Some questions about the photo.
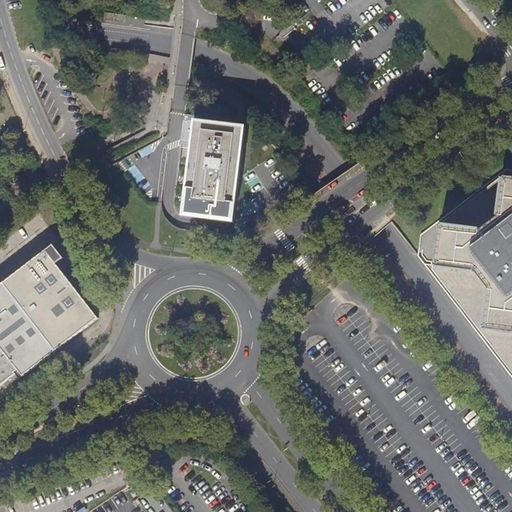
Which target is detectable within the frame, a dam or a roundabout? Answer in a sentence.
The image shows a roundabout.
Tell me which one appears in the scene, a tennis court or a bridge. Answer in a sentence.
This aerial view contains a bridge.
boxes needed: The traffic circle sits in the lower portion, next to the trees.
[120,260,265,405]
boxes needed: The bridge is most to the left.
[166,0,199,113]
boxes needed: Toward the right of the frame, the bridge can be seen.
[307,161,404,248]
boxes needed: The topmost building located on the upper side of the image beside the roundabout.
[180,118,244,222]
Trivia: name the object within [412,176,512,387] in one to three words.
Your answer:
building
